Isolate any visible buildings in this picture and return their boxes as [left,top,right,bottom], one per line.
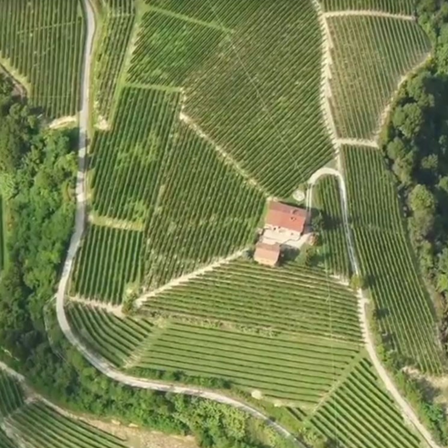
[255,242,281,267]
[262,203,307,239]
